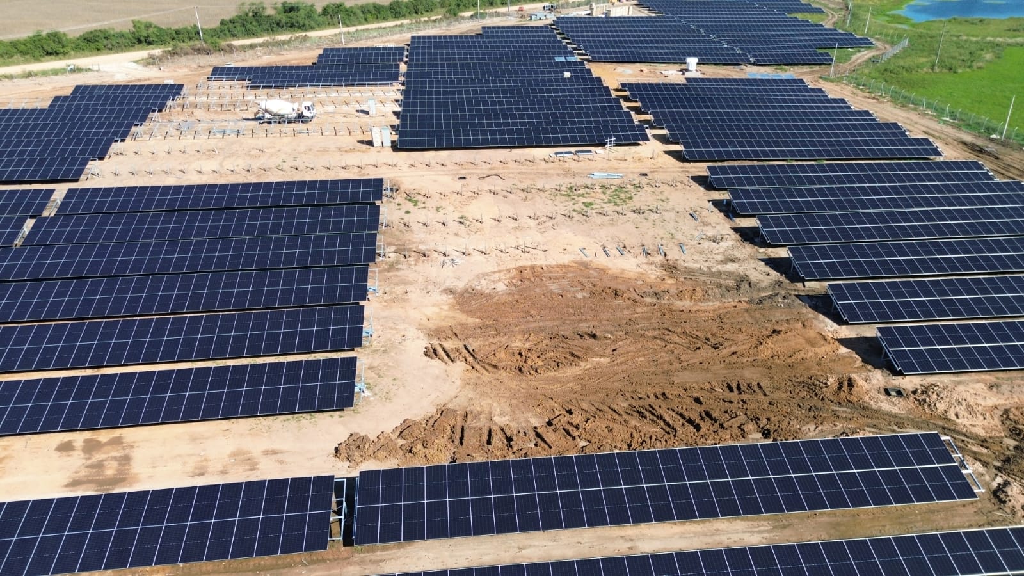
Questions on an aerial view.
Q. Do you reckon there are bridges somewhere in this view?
No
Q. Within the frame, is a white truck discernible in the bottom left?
No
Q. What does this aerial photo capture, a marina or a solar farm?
solar farm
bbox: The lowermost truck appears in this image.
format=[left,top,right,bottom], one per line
[253,98,317,123]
